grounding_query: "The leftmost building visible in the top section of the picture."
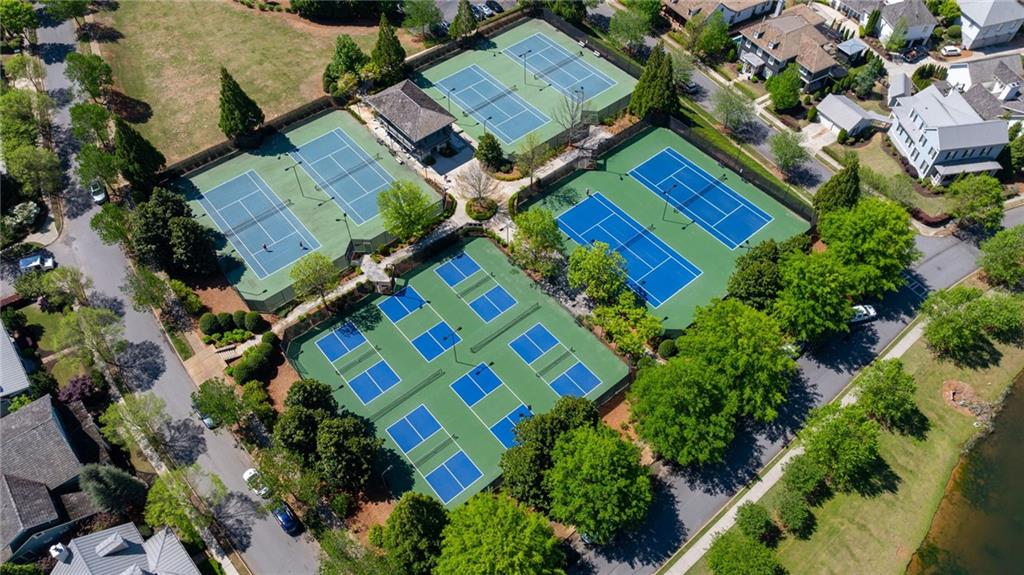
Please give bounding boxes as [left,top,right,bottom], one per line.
[365,78,458,163]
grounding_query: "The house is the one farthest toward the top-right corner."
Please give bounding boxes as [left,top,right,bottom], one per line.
[951,1,1024,52]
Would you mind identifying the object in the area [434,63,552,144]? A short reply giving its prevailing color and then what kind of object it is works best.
blue tennis court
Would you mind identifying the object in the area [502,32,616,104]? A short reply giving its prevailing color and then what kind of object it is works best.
blue tennis court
